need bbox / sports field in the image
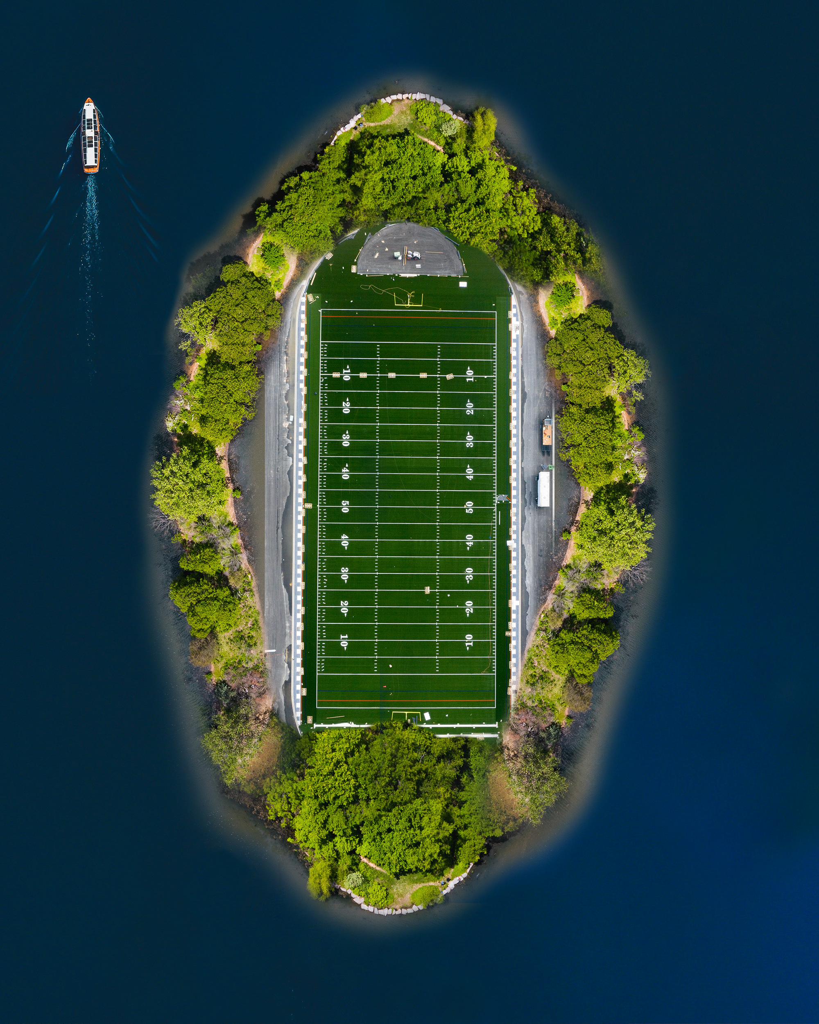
[300,219,512,740]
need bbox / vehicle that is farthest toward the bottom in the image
[538,472,552,508]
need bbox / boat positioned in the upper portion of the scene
[80,98,101,174]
